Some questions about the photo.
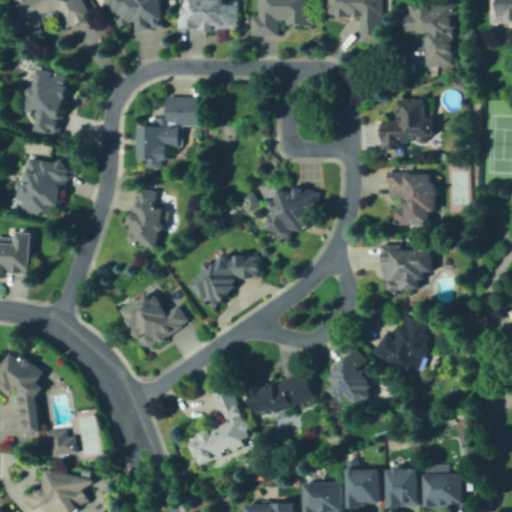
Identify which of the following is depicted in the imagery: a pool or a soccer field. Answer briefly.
pool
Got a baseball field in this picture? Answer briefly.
No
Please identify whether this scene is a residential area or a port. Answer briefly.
residential area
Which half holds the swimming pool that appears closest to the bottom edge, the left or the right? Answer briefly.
left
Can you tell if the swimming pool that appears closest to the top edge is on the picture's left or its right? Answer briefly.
right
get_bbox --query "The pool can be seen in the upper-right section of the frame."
[438,88,462,116]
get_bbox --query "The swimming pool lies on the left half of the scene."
[52,392,74,430]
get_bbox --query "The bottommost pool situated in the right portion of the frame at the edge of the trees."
[437,270,456,304]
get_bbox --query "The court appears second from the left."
[450,165,472,214]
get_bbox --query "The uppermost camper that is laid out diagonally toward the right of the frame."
[342,33,355,51]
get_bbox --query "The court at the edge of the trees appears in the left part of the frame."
[78,410,102,460]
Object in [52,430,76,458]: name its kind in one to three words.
building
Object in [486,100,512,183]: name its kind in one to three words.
tennis court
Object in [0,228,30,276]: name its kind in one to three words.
house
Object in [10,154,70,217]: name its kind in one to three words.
house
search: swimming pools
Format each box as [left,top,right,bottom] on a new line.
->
[52,392,74,430]
[437,270,456,304]
[438,88,462,116]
